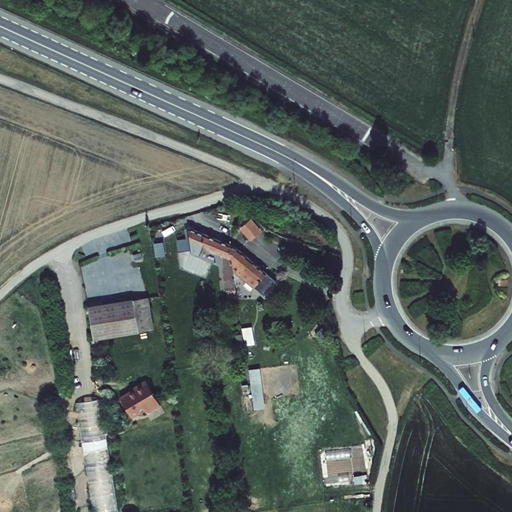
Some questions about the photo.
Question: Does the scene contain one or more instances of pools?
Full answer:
No, the picture doesn't show any pool.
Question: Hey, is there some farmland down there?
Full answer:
Yes, there's farmland in this view.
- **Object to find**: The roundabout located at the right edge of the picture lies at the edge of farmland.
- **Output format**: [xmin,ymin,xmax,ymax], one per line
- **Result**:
[373,199,512,365]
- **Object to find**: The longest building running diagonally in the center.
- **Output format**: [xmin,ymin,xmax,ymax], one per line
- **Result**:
[186,229,264,288]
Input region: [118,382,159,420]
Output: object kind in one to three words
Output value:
house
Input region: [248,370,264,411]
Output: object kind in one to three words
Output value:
shed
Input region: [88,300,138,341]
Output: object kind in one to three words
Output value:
barn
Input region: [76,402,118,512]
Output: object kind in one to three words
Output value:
greenhouse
